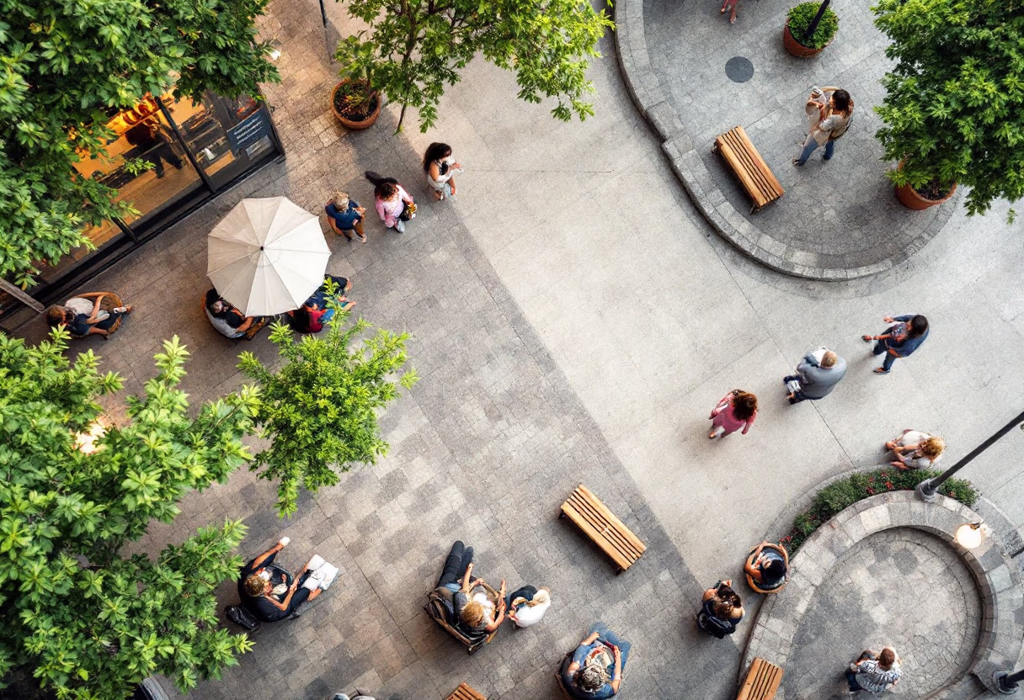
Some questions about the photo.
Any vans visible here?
No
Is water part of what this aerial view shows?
No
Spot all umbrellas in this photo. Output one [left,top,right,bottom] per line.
[207,200,332,316]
